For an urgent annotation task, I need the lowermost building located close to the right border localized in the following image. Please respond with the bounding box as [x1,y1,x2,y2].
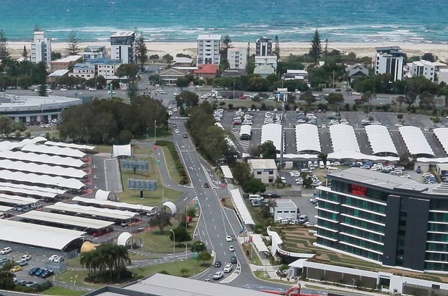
[314,173,448,276]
